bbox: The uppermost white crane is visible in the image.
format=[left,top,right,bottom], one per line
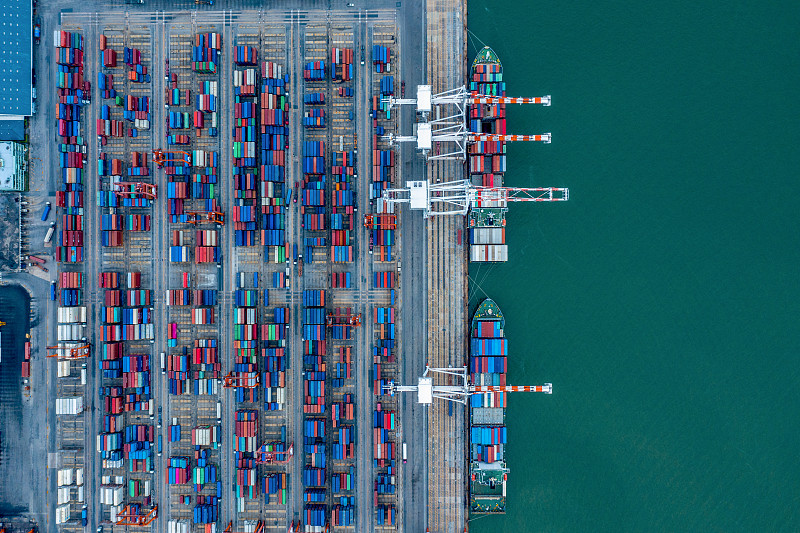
[381,84,552,130]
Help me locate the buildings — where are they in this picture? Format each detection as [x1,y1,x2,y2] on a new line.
[0,141,25,193]
[0,0,33,116]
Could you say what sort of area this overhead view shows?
port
